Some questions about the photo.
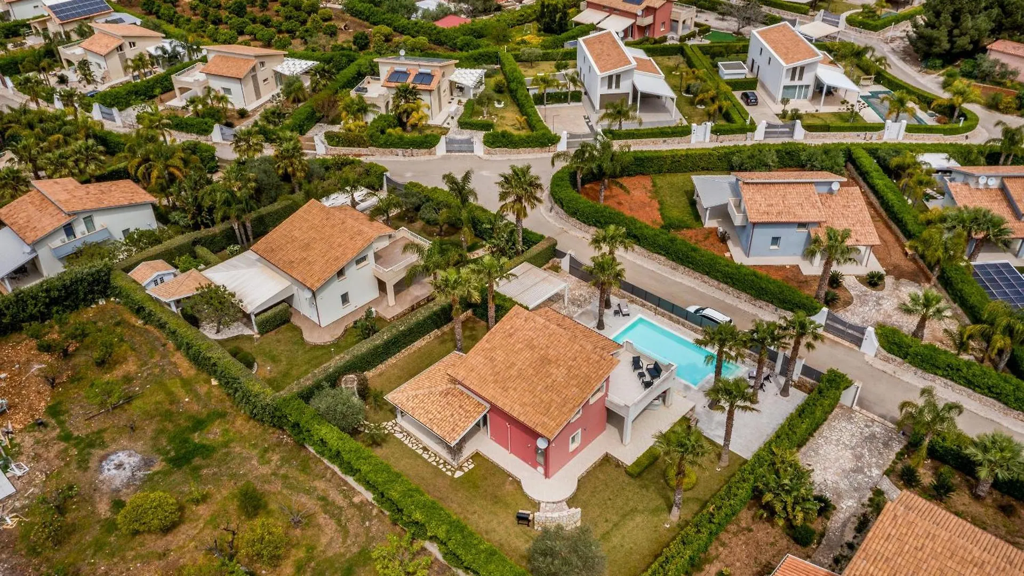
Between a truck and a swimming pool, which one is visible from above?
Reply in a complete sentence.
Looking from above, you can make out a swimming pool.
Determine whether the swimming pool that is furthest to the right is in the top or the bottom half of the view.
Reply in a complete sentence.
You can find the swimming pool that is furthest to the right in the top half.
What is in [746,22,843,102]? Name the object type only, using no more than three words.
house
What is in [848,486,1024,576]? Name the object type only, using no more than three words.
house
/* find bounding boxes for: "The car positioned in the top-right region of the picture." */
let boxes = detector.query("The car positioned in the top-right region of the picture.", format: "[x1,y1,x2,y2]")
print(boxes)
[740,93,761,106]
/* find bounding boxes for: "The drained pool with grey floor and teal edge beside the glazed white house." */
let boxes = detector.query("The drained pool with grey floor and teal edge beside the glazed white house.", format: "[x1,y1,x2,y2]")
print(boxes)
[861,92,927,124]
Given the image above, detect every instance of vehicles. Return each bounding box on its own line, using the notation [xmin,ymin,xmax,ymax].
[740,93,761,106]
[691,304,745,329]
[78,88,107,99]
